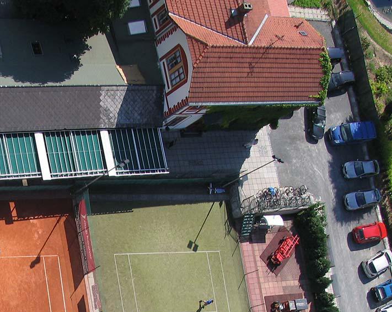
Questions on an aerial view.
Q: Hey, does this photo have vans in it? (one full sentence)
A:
Yes, a van is visible in the scene.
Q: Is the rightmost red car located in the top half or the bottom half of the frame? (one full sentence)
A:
The rightmost red car sits in the bottom half of the picture.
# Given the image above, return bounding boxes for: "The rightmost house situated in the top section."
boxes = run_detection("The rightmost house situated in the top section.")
[134,0,339,143]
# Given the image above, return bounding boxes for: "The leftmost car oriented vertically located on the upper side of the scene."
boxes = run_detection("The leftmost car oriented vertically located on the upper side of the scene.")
[307,98,331,147]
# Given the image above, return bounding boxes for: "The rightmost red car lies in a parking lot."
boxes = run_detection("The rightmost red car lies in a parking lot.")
[352,220,390,244]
